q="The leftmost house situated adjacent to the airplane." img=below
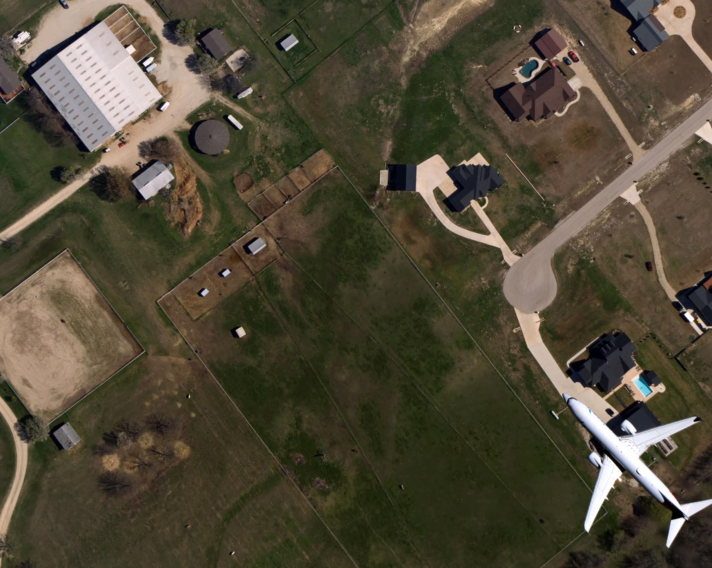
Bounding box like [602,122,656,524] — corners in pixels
[580,330,640,392]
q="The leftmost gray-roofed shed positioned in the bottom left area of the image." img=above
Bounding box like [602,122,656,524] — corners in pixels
[55,422,80,450]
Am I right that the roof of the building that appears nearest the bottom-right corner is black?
Yes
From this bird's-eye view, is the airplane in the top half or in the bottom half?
bottom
